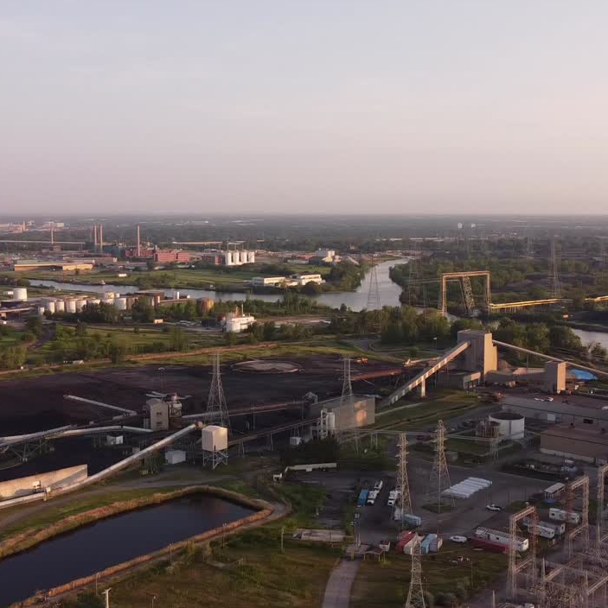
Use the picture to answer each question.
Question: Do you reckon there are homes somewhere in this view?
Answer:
Yes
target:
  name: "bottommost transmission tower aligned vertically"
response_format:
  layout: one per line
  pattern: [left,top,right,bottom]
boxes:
[401,532,431,608]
